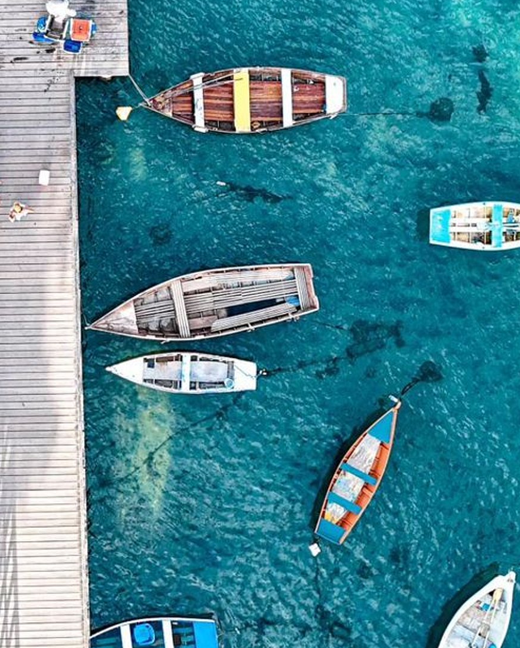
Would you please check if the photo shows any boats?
Yes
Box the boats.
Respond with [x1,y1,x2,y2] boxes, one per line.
[425,201,520,252]
[104,352,258,394]
[439,569,516,648]
[81,619,220,648]
[137,67,349,133]
[315,403,401,546]
[84,264,320,342]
